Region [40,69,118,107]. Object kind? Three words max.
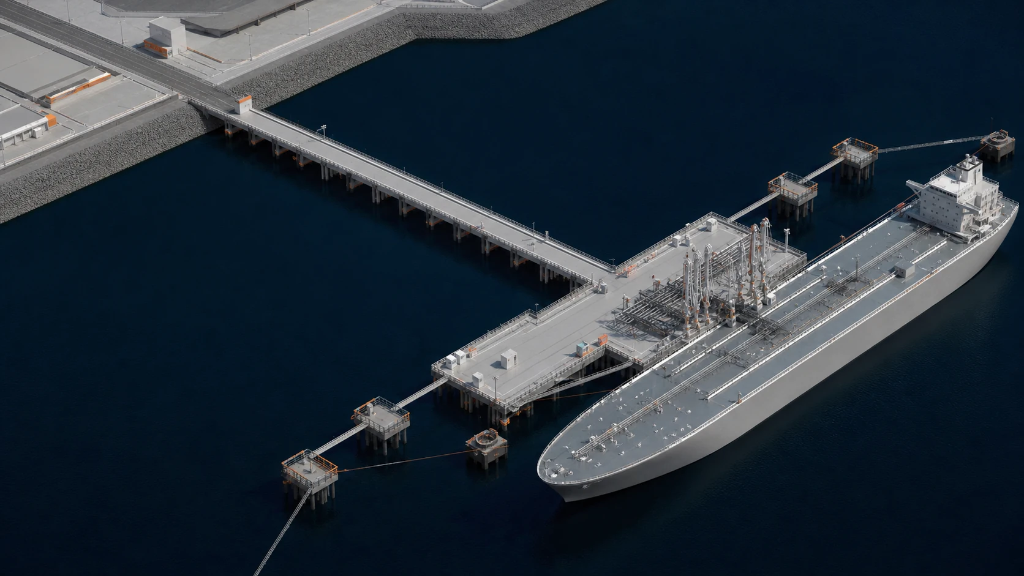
shed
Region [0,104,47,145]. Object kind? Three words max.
building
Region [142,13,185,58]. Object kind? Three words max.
building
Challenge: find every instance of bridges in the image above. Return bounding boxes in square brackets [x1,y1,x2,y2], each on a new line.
[178,85,616,295]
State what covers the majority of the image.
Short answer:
water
